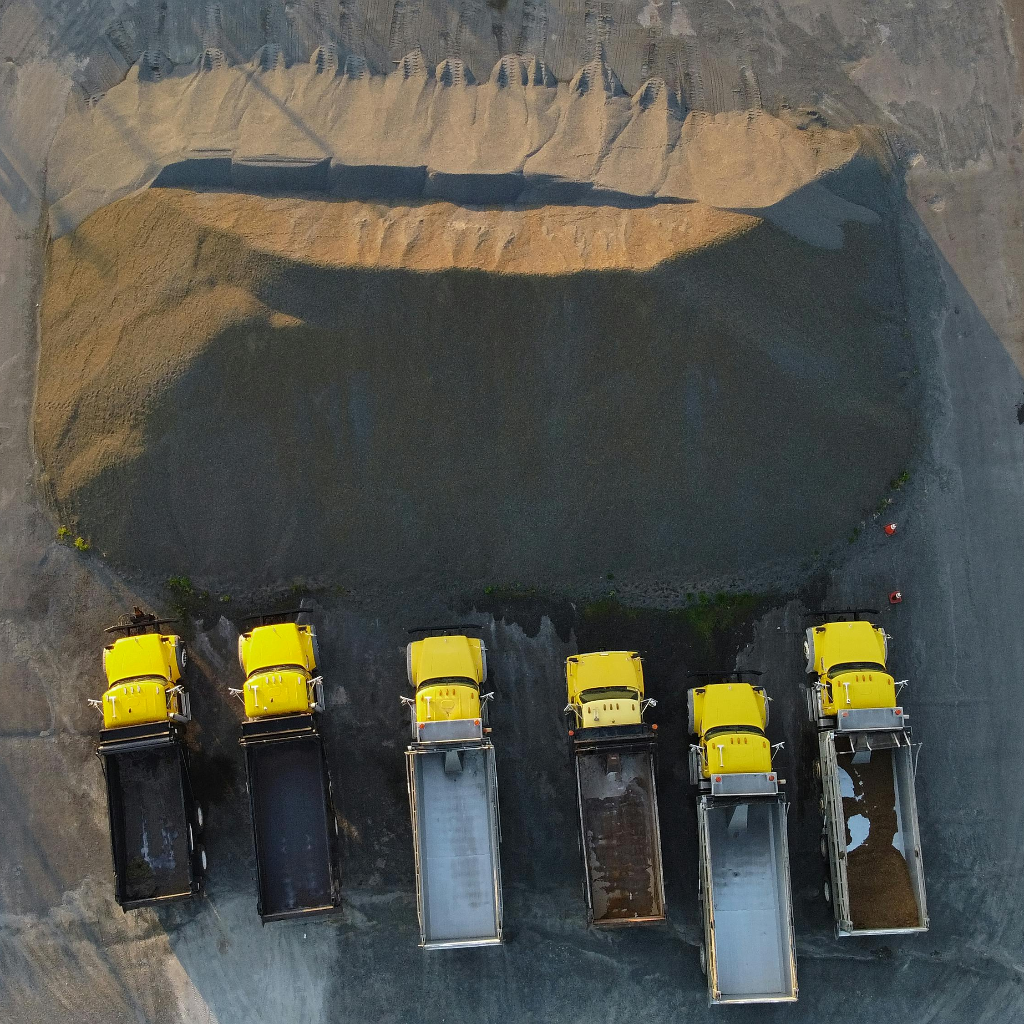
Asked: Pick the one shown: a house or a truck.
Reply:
truck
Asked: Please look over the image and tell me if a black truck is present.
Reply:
Yes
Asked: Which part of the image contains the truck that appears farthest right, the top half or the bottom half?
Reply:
bottom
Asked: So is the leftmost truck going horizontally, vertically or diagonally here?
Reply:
vertically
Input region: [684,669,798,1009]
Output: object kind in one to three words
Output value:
truck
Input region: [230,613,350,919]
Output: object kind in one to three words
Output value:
truck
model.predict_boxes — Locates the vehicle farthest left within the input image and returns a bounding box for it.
[90,600,214,909]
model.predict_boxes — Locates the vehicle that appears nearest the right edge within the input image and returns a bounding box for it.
[800,605,929,937]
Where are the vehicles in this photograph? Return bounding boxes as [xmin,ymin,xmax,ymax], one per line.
[230,613,350,919]
[800,605,929,937]
[559,649,670,929]
[90,600,214,909]
[400,621,507,952]
[684,669,798,1009]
